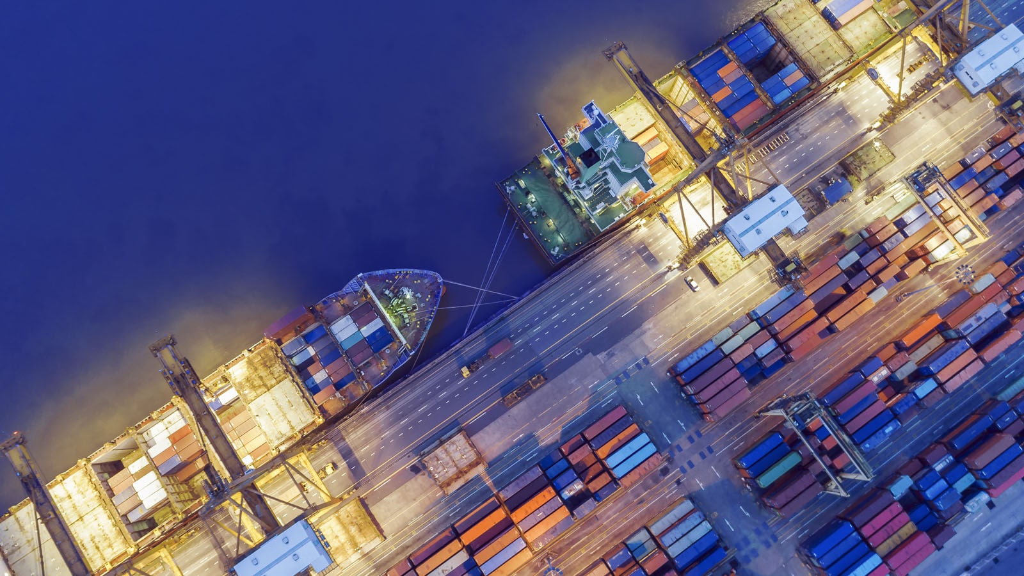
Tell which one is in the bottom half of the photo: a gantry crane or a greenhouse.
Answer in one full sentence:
The one visible in the bottom half of the photo is a gantry crane.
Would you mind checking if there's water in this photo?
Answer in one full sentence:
Yes, some water is visible.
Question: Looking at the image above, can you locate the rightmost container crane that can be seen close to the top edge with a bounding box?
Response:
[799,0,1024,158]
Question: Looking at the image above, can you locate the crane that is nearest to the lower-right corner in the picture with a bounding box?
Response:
[754,386,879,499]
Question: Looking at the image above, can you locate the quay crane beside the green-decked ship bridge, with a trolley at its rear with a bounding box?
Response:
[603,37,808,285]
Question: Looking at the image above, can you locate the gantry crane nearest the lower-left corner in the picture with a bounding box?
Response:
[0,430,236,576]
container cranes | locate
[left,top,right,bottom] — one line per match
[0,430,236,576]
[603,37,808,285]
[867,159,998,274]
[799,0,1024,158]
[754,386,879,499]
[145,331,375,576]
